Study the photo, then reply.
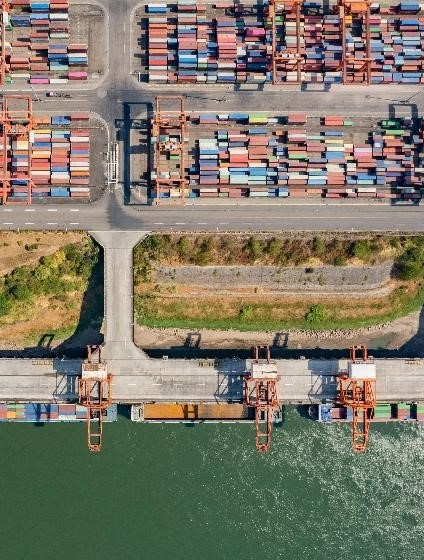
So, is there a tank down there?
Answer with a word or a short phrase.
No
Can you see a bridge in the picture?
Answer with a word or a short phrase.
Yes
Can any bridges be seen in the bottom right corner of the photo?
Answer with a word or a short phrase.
No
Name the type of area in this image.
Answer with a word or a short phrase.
port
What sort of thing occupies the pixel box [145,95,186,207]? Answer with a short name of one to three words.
container crane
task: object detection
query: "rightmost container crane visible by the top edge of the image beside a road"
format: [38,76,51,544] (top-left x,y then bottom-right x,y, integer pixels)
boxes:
[328,0,372,87]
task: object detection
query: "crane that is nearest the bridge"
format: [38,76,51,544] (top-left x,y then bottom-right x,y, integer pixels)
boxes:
[72,344,112,453]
